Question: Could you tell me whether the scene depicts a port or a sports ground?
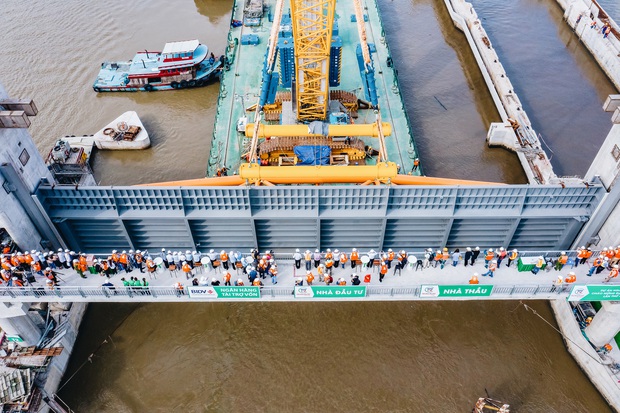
port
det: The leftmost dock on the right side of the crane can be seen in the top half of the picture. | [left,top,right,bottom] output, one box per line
[441,0,560,184]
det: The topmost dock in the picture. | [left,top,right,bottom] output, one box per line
[553,0,620,89]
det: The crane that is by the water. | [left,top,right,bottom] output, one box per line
[247,0,386,166]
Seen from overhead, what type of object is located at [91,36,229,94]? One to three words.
boat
